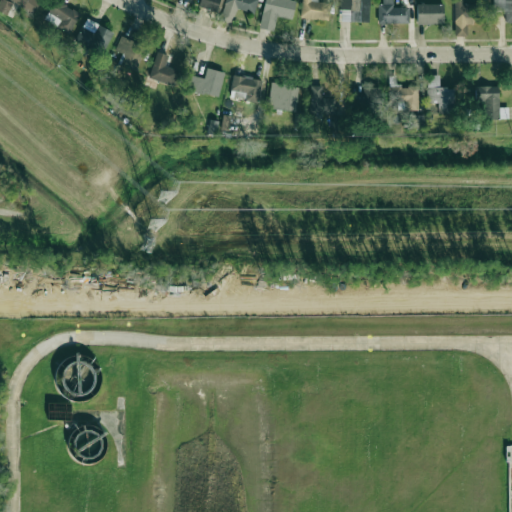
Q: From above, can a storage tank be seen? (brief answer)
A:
Yes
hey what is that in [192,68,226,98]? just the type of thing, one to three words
house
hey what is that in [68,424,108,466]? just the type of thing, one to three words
storage tank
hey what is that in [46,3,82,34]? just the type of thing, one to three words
house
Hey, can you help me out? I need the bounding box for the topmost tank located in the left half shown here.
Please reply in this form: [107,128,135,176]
[55,352,102,403]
